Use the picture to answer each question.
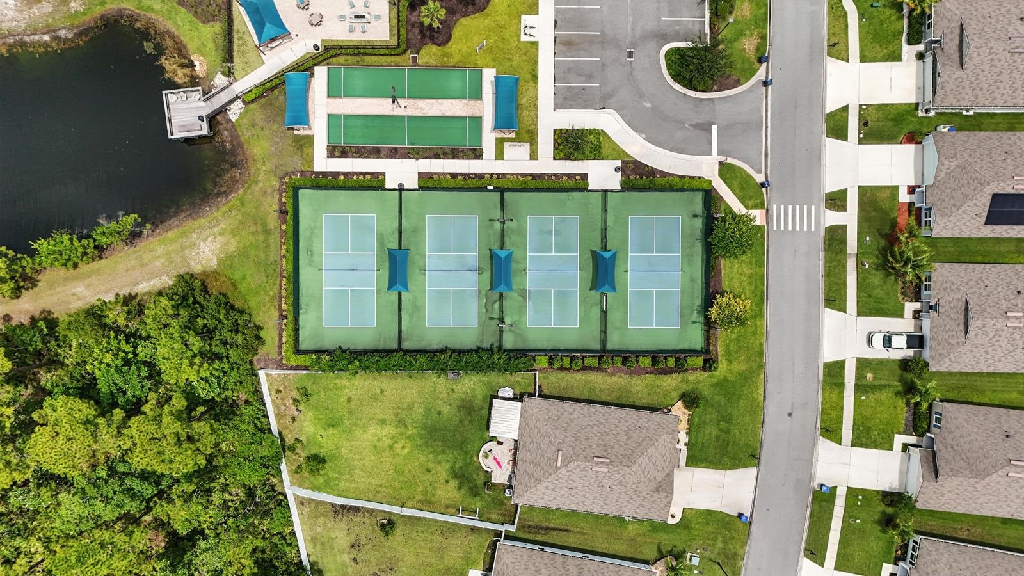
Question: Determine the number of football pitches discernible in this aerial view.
0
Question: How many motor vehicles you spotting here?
1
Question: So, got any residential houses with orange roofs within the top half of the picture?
No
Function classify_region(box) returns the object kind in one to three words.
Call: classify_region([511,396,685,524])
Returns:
house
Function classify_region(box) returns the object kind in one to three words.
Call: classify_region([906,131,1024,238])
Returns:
house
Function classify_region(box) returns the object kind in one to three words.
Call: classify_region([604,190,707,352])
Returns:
sports court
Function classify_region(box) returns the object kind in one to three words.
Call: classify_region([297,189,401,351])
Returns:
sports court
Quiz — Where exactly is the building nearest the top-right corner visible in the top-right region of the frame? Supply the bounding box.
[921,0,1024,113]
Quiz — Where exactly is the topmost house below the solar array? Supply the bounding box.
[913,262,1024,373]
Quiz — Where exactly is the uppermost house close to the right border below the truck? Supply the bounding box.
[906,402,1024,516]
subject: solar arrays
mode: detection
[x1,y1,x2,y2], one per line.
[985,193,1024,225]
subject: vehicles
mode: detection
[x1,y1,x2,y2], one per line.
[870,330,925,352]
